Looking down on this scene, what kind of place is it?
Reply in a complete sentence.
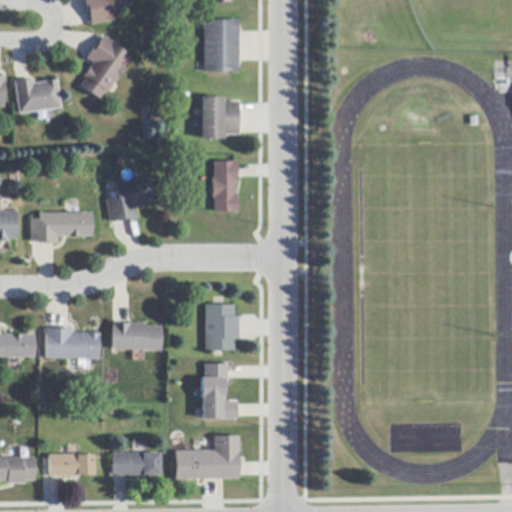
It's a sports ground.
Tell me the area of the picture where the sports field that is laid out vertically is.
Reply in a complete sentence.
The sports field that is laid out vertically is located in the right region of the scene.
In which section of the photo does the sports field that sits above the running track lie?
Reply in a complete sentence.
The sports field that sits above the running track appears toward the top right of the photo.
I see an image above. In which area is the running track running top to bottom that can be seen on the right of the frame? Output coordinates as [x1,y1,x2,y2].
[334,58,512,484]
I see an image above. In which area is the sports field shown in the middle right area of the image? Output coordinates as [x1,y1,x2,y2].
[352,76,496,464]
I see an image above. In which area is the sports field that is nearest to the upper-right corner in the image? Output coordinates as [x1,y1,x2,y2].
[412,0,512,50]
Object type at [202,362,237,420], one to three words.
house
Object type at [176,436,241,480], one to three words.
house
